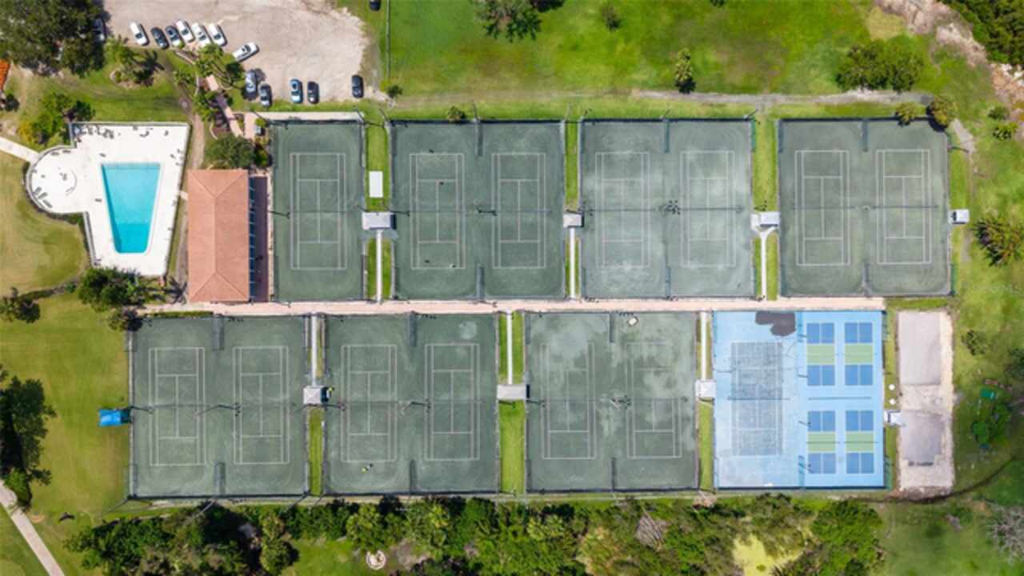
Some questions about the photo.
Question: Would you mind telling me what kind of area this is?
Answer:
sports ground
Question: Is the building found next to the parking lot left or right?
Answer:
left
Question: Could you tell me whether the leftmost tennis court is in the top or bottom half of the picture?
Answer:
bottom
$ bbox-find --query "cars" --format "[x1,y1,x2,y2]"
[129,21,149,46]
[151,27,170,50]
[351,74,362,98]
[164,25,182,47]
[369,0,380,12]
[234,42,258,61]
[307,81,318,104]
[290,79,302,103]
[191,23,209,47]
[207,23,225,46]
[175,20,194,44]
[260,84,272,107]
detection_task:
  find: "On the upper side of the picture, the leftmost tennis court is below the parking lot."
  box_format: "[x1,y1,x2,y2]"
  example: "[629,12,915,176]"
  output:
[273,120,363,301]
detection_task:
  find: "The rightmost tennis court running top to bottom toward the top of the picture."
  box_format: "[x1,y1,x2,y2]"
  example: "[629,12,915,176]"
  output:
[864,118,951,296]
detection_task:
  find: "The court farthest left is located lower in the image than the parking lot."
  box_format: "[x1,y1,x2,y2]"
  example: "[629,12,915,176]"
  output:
[130,316,219,497]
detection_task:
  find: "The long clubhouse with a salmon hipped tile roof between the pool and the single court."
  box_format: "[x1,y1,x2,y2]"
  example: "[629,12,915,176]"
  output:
[187,169,257,303]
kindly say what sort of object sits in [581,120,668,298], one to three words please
tennis court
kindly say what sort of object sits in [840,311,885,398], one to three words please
sports court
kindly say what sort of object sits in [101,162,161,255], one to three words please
swimming pool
